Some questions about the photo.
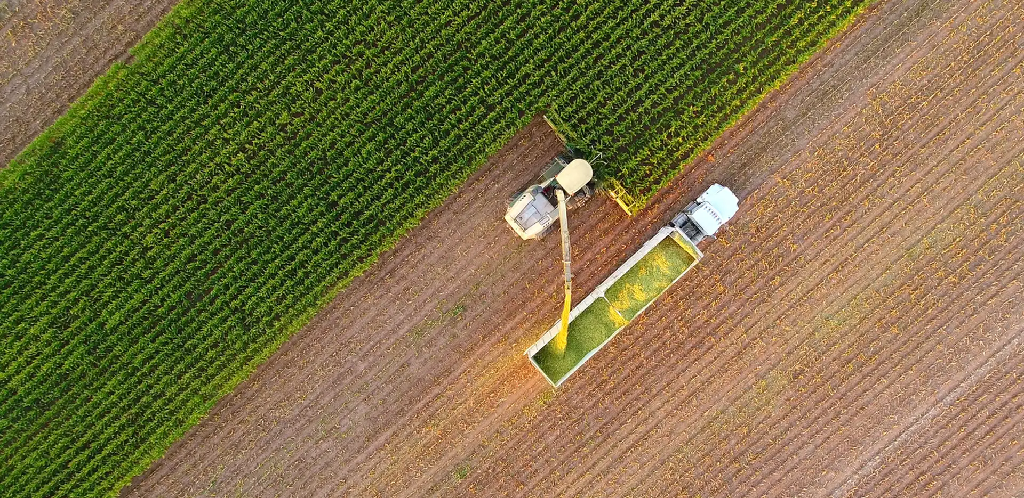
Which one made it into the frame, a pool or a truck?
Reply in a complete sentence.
The image shows a truck.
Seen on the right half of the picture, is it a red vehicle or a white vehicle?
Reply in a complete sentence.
What appears on the right half of the picture is a white vehicle.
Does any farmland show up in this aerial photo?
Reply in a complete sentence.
Yes, the picture does contain farmland.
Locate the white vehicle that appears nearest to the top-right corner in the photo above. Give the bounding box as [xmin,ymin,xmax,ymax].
[641,184,737,247]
